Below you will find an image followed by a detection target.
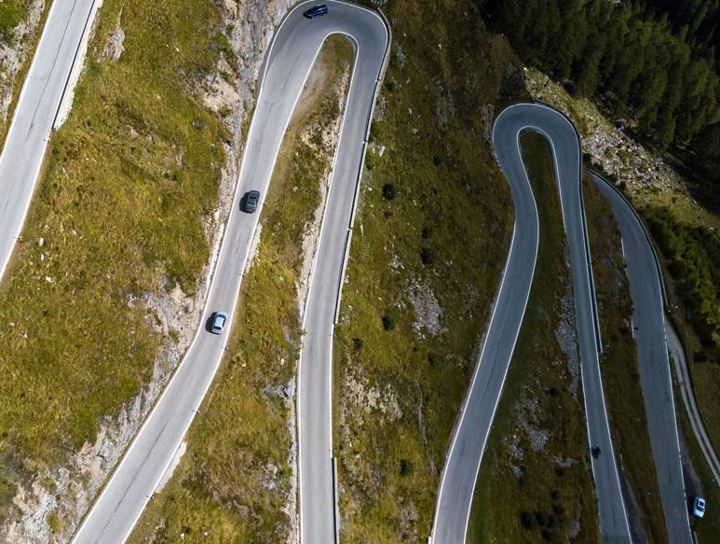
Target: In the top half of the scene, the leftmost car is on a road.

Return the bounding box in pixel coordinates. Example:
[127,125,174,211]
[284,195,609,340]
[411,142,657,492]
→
[242,191,257,212]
